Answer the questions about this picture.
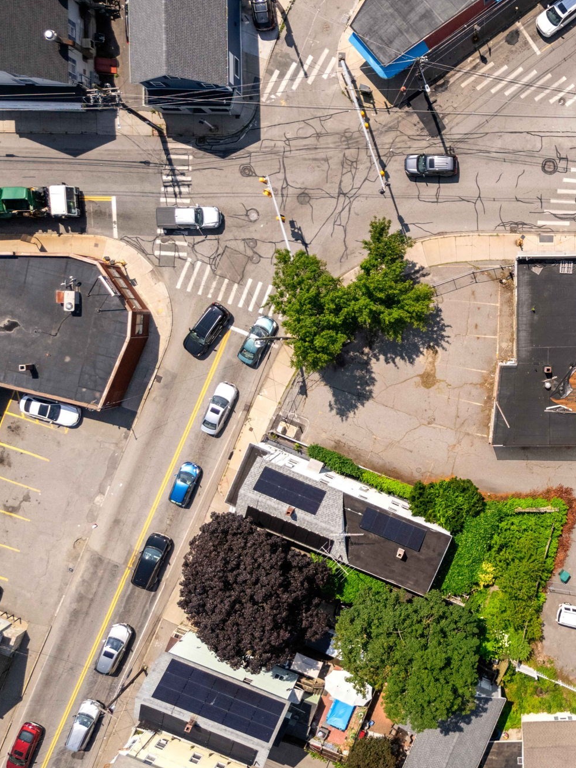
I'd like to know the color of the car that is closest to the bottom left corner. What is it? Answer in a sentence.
In this view, the car that is closest to the bottom left corner is red.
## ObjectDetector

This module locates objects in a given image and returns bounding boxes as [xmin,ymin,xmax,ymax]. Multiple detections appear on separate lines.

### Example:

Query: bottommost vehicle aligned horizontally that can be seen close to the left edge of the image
[15,393,85,428]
